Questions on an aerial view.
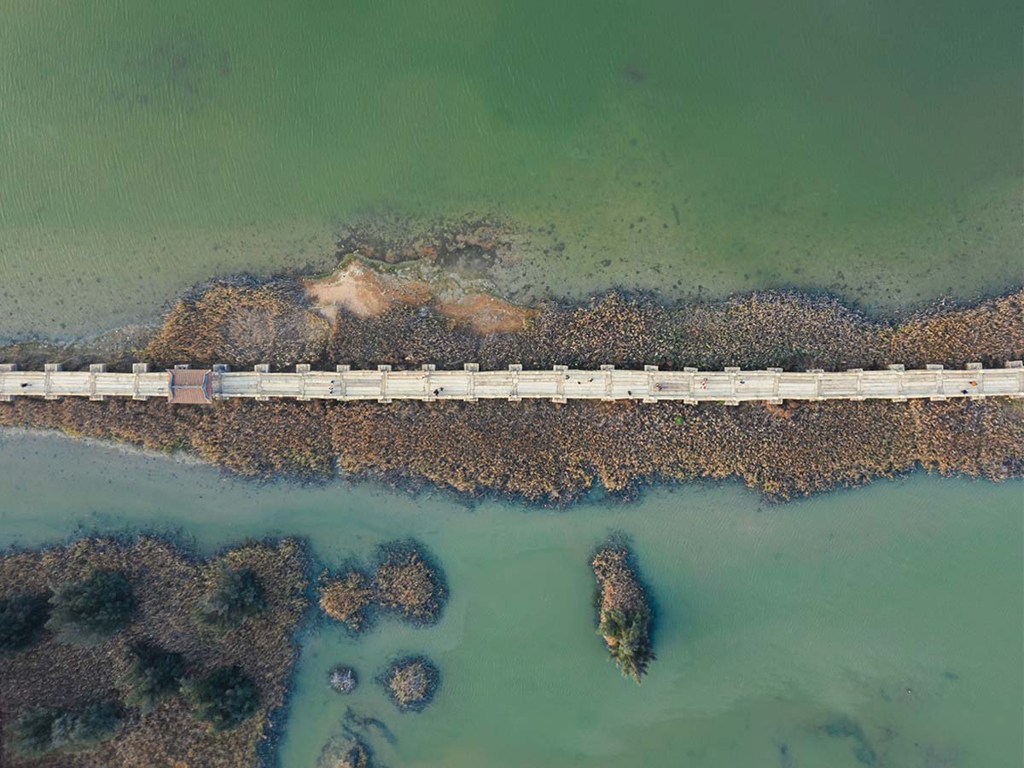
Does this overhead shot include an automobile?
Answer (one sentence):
No, there is no automobile in the image.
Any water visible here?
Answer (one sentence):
Yes, water shows up in the scene.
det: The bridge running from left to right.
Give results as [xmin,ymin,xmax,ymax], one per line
[0,361,1024,406]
